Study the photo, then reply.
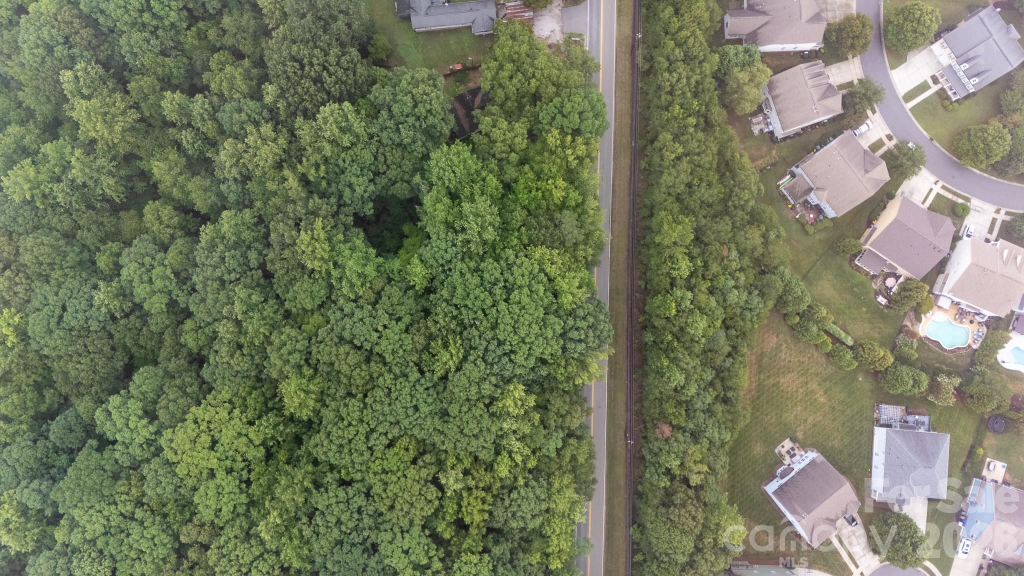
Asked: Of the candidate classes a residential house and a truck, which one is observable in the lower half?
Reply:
residential house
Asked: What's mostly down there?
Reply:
trees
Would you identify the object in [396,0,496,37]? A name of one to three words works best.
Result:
house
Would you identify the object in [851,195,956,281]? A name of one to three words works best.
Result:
house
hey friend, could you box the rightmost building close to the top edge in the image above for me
[930,5,1024,100]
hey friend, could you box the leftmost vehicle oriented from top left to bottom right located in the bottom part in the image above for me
[844,514,859,529]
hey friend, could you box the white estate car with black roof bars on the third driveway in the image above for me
[852,120,872,137]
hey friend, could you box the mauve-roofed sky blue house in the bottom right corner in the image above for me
[960,476,1024,572]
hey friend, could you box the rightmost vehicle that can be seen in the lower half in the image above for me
[958,537,971,557]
